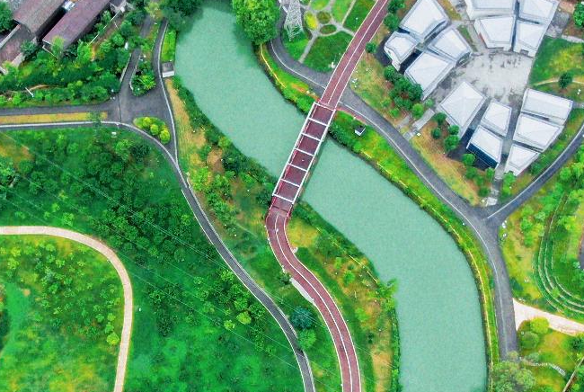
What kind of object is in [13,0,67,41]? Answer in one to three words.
building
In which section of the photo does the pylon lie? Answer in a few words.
top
